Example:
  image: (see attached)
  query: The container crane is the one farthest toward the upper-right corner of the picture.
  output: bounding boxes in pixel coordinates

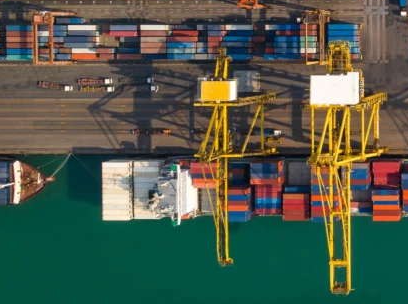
[302,5,336,65]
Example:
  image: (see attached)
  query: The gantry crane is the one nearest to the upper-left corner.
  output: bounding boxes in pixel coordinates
[31,8,81,63]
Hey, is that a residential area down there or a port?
port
